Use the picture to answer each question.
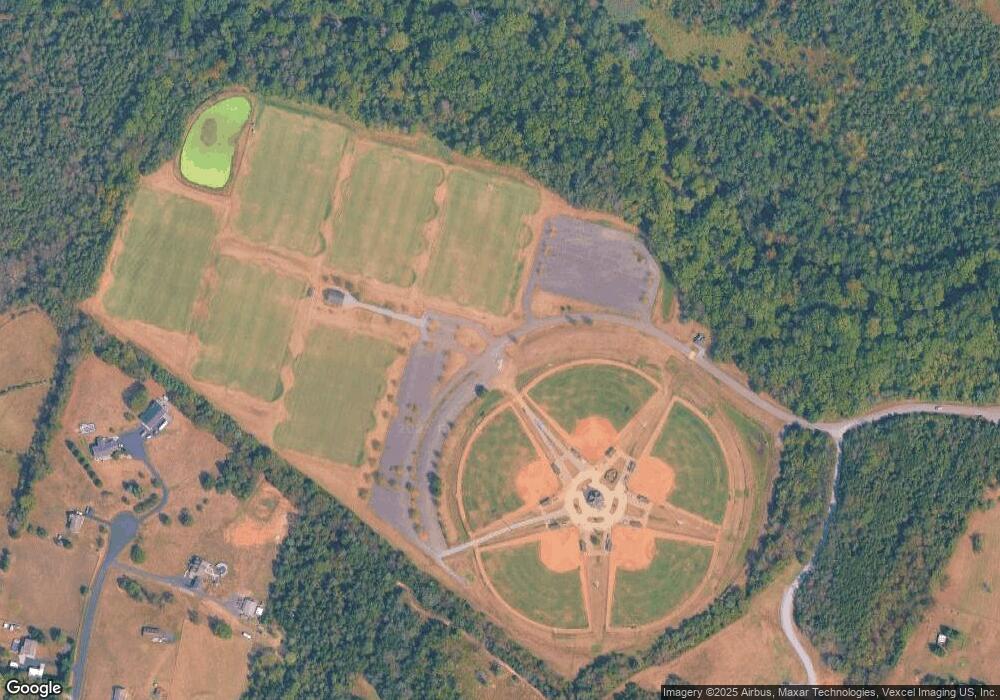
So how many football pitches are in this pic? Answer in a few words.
6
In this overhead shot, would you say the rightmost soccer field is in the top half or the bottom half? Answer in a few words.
top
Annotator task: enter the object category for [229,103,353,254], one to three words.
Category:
soccer field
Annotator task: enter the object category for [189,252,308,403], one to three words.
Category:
soccer field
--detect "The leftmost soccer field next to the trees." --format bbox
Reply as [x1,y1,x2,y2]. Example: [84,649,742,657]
[101,186,220,335]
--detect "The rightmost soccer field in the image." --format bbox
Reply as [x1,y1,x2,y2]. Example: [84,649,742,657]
[423,168,544,316]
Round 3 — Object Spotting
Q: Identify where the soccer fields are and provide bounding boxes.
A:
[326,148,448,287]
[189,252,308,403]
[271,324,403,468]
[423,168,544,316]
[229,103,353,254]
[101,186,220,335]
